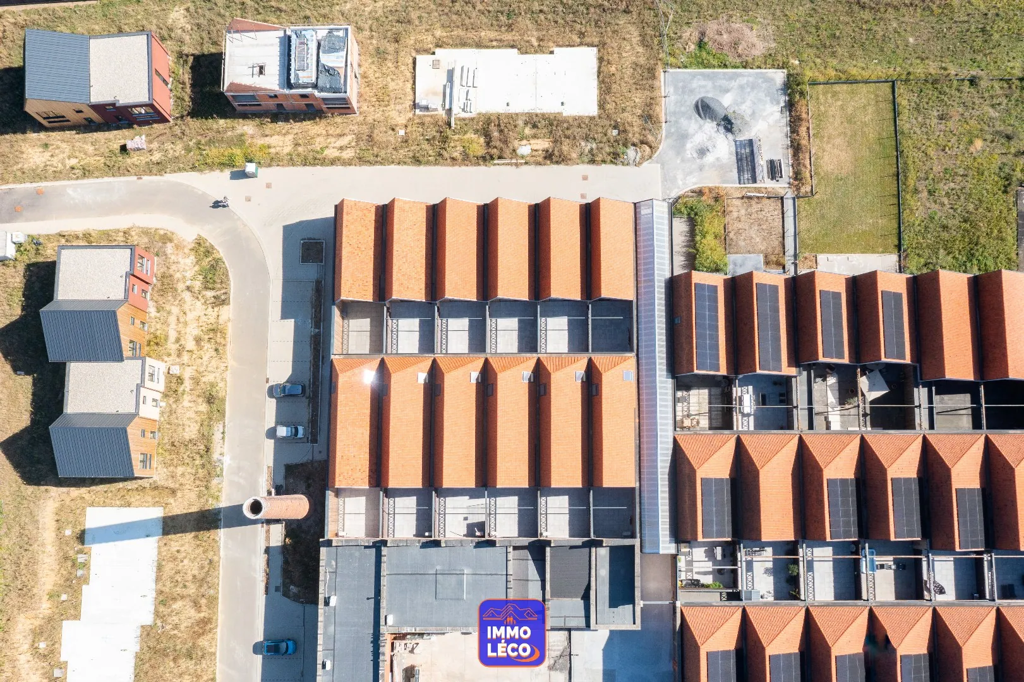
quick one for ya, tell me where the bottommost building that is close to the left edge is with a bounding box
[49,357,162,479]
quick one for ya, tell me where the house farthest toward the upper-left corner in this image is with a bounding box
[23,29,169,123]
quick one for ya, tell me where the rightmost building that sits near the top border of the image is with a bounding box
[222,17,357,111]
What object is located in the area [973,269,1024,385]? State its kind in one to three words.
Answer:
house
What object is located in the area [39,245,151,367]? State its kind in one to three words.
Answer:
house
